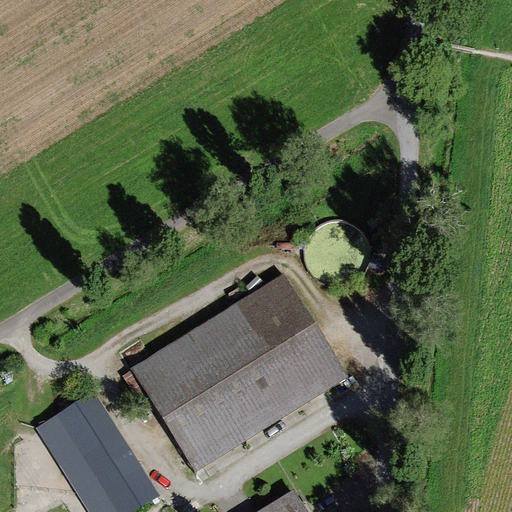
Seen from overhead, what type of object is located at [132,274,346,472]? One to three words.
barn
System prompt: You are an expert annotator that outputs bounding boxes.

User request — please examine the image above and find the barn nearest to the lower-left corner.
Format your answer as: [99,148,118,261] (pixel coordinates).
[34,392,159,512]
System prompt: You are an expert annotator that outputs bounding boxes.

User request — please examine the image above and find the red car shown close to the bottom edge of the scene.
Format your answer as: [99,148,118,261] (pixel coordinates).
[150,470,172,488]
